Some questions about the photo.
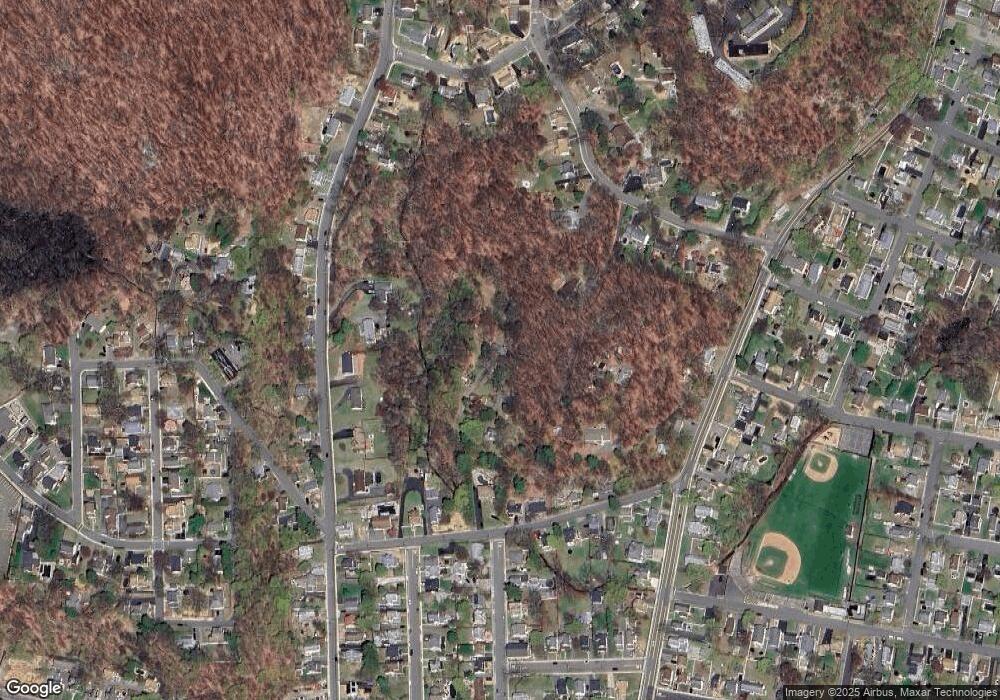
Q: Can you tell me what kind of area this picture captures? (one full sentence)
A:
The picture captures a residential area.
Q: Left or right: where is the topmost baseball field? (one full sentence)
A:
The topmost baseball field is on the right side of the image.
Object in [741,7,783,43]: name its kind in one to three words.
building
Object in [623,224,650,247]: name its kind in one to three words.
house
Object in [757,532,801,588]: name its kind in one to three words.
baseball field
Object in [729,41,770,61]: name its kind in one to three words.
building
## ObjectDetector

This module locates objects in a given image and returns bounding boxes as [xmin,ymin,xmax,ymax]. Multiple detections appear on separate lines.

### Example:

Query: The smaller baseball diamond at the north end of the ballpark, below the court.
[804,447,841,481]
